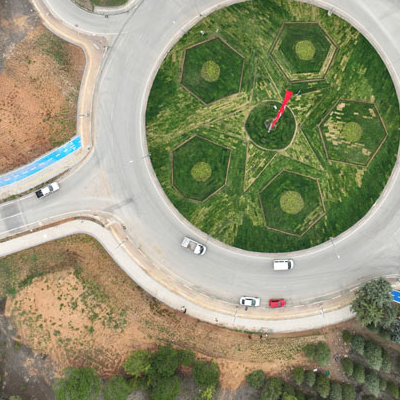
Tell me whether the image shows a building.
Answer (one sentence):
No, I can see no building in this picture.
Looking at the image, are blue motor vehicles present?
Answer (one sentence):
No, there isn't any blue motor vehicle down there.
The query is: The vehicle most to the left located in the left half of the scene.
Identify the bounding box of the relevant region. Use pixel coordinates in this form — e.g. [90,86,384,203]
[34,180,60,198]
